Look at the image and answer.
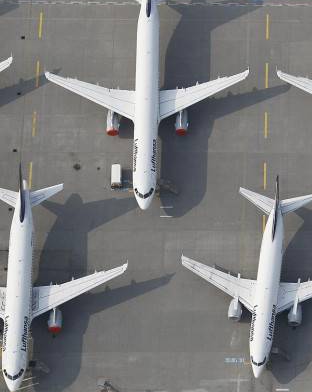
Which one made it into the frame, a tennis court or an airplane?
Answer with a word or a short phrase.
airplane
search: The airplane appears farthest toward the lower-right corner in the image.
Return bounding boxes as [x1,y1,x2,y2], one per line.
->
[181,177,312,378]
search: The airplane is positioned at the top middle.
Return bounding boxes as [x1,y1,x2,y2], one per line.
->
[46,0,250,210]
